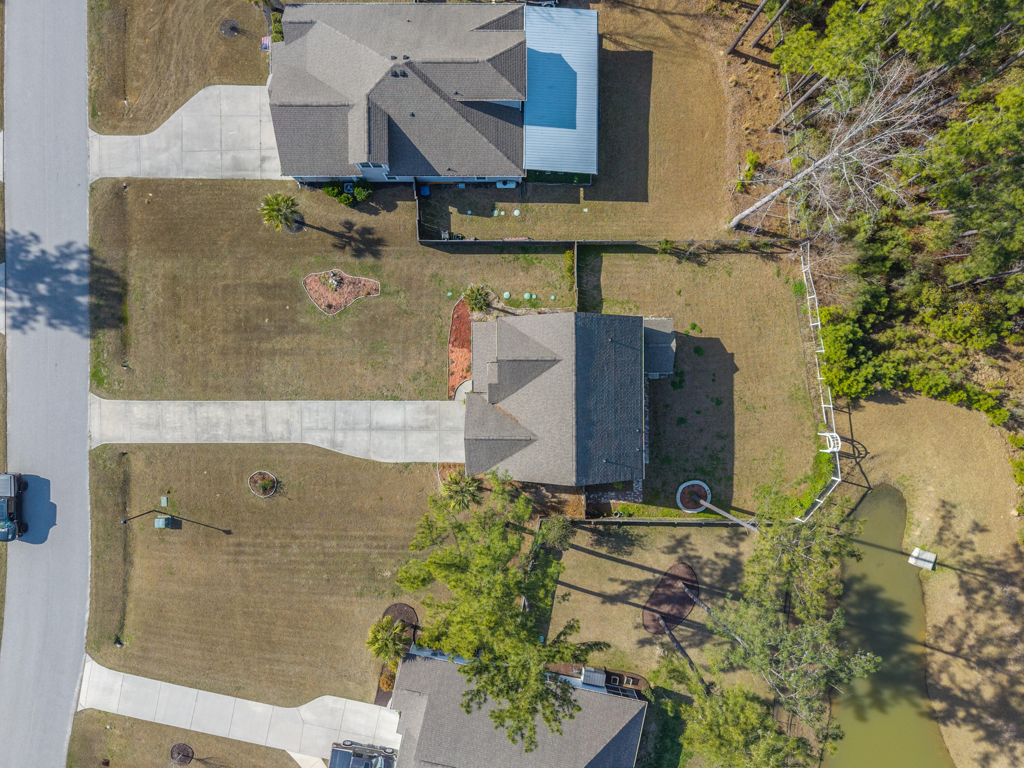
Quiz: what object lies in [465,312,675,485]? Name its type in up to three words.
house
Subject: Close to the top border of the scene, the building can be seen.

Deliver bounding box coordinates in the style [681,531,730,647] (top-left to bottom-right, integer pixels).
[268,1,599,188]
